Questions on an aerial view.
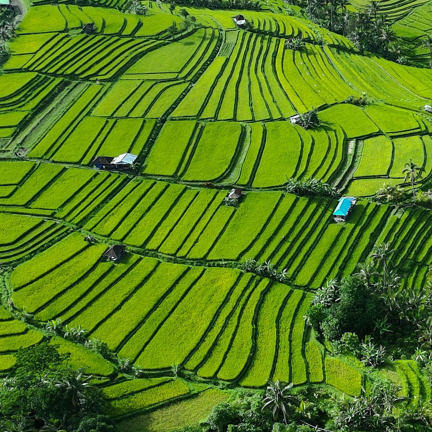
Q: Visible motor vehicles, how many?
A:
zero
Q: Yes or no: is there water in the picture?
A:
No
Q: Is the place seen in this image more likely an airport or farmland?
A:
farmland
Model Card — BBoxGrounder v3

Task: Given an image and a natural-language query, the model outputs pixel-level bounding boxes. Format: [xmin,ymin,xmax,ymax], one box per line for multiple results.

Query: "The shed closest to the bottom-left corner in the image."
[101,245,130,263]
